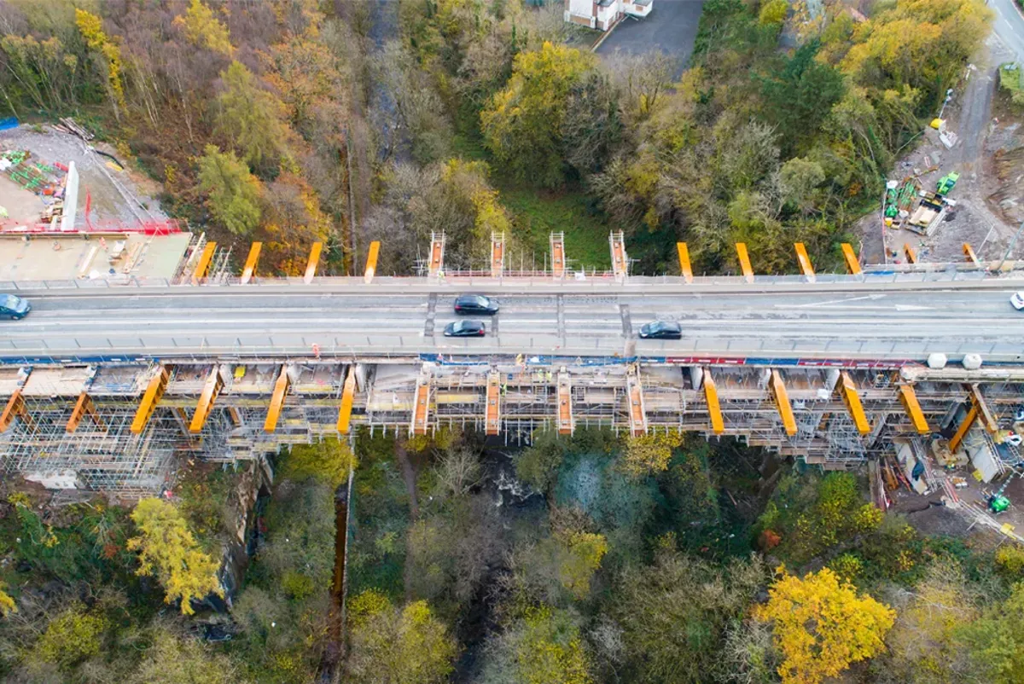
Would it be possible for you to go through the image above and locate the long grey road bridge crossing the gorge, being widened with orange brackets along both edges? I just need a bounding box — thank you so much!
[0,282,1024,453]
